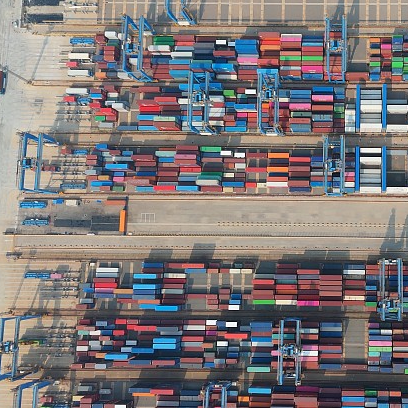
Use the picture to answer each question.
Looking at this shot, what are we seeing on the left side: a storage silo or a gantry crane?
gantry crane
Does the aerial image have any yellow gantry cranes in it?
No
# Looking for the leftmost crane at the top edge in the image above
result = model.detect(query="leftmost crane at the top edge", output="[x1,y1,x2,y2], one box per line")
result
[119,10,160,81]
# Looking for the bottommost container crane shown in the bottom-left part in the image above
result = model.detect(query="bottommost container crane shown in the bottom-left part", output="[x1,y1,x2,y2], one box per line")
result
[14,378,66,408]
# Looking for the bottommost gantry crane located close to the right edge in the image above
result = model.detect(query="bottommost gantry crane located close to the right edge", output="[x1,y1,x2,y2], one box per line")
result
[373,258,405,322]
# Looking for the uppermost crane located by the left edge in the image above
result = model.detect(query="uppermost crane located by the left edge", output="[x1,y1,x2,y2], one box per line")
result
[16,130,69,195]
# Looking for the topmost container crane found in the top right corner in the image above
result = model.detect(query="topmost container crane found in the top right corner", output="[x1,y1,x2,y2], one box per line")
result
[321,11,353,82]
